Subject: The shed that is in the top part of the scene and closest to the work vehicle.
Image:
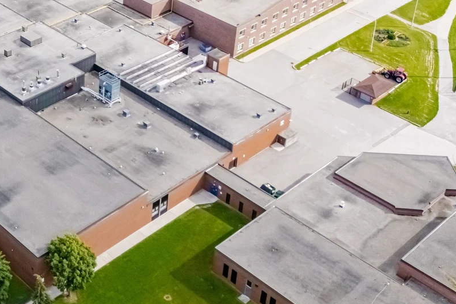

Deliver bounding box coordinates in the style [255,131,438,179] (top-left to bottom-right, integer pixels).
[352,75,401,111]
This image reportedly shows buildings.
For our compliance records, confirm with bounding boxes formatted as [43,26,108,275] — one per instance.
[0,0,304,289]
[352,75,401,111]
